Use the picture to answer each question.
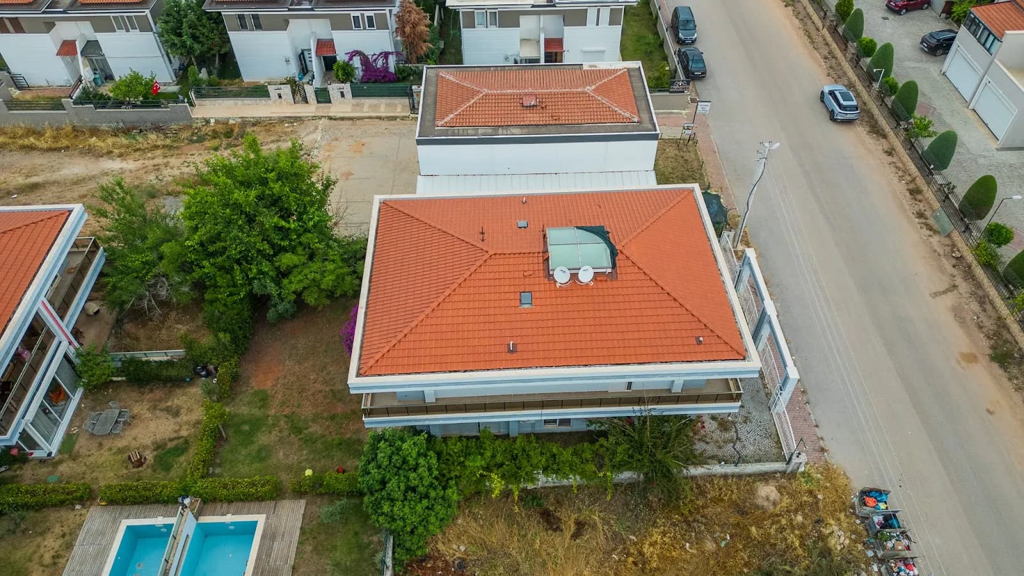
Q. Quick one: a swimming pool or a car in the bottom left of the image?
swimming pool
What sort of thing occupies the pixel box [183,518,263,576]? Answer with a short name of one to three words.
swimming pool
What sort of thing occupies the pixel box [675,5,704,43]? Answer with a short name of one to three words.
van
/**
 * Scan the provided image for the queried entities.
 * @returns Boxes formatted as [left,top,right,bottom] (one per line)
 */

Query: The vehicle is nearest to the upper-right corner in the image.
[916,23,962,51]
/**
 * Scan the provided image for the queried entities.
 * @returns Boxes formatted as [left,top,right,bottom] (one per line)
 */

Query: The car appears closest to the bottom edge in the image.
[814,81,861,121]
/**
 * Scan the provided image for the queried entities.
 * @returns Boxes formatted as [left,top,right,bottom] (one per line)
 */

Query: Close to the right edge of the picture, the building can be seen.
[942,0,1024,149]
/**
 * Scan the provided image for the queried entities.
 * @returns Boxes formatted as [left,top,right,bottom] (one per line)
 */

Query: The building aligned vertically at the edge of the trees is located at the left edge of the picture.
[0,204,106,456]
